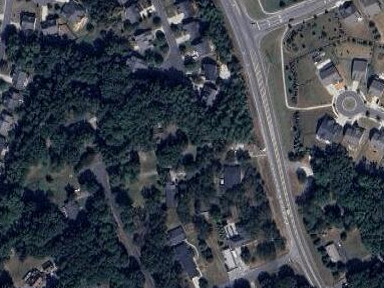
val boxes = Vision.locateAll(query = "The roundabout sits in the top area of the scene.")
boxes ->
[333,89,363,119]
